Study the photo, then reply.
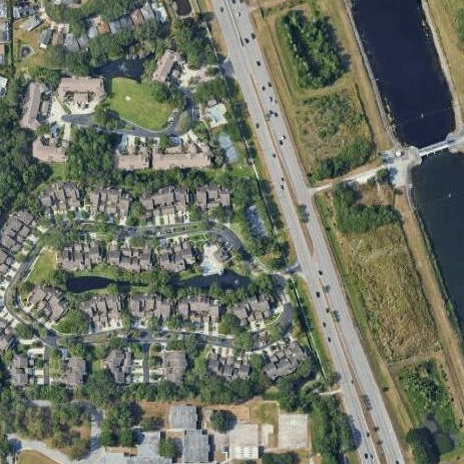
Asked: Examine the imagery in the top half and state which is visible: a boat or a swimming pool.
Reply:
swimming pool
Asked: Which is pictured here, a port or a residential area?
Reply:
residential area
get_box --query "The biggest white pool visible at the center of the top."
[202,102,231,128]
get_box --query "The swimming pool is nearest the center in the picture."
[200,248,223,274]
